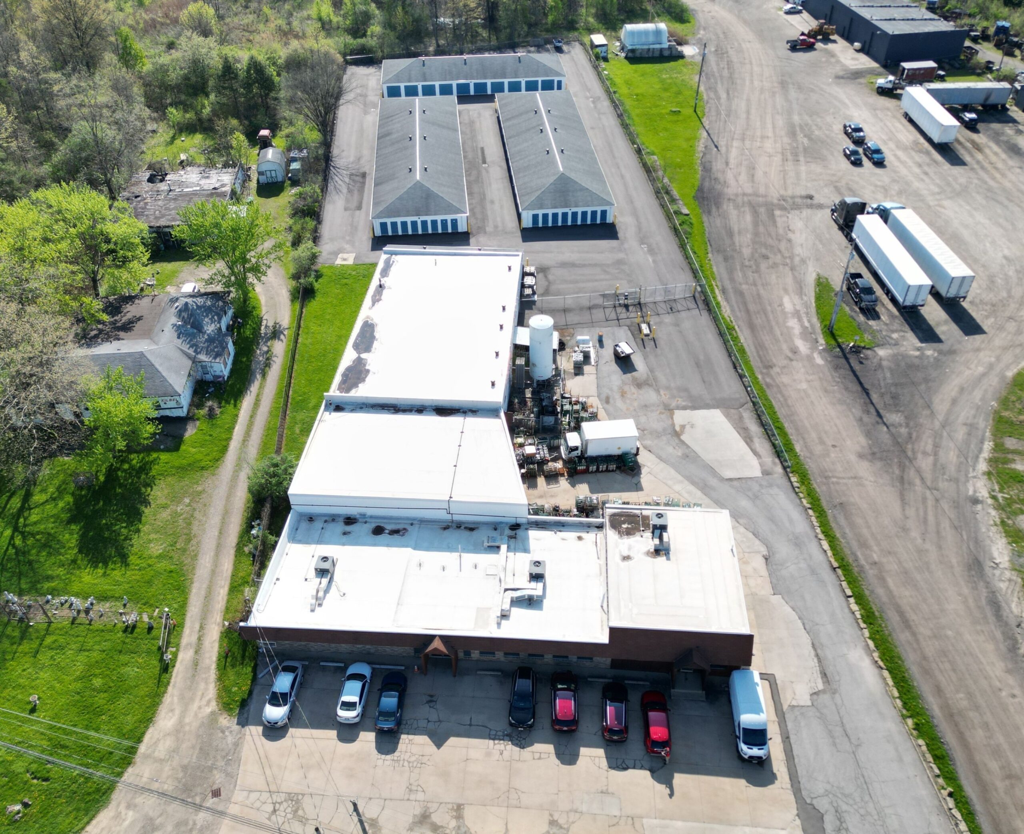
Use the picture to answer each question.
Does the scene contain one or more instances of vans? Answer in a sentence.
Yes, the photo shows a van.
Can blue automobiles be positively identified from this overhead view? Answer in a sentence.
Yes, there's a blue automobile here.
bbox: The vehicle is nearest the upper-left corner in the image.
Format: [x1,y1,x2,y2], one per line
[255,133,275,152]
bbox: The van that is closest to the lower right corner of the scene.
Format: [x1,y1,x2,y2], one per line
[725,670,773,762]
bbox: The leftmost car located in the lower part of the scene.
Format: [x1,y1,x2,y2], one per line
[264,660,305,727]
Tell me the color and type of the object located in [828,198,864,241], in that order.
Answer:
black truck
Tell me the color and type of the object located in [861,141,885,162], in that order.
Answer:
blue car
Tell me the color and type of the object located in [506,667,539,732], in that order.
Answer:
black car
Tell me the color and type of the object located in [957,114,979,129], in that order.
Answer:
black car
